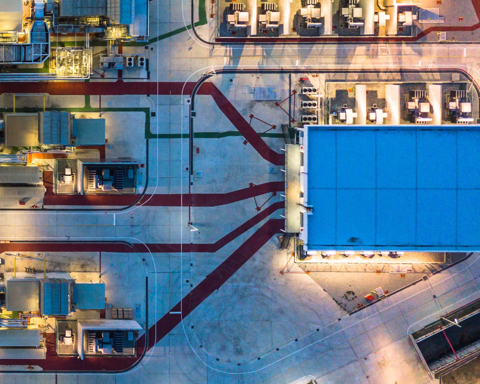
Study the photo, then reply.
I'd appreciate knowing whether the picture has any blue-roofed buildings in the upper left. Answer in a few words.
Yes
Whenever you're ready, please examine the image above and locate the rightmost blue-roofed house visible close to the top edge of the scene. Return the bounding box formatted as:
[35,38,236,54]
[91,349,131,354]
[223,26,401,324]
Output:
[101,0,150,36]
